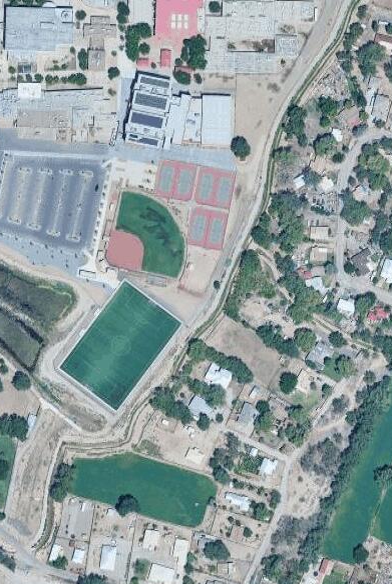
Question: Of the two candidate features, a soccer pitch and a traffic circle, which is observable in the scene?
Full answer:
I can see a soccer pitch in this picture.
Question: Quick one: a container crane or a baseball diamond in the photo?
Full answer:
It is a baseball diamond that can be seen here.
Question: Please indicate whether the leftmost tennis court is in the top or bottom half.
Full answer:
The leftmost tennis court is in the top half of the image.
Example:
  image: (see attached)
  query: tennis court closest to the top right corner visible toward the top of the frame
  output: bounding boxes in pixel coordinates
[196,167,236,209]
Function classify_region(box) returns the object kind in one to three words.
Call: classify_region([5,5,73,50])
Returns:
building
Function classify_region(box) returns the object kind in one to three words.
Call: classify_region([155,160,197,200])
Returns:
tennis court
